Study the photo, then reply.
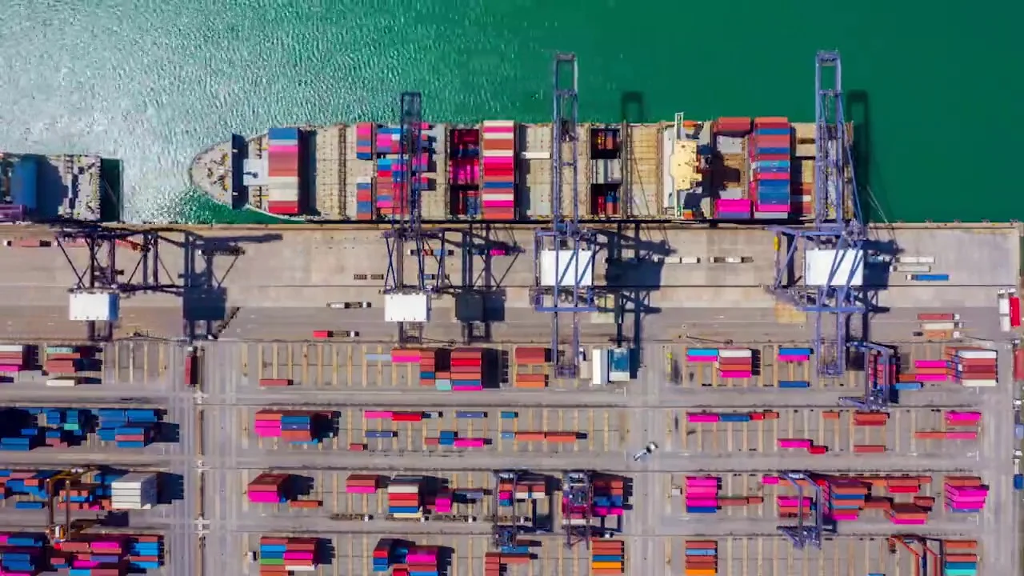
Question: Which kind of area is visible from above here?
port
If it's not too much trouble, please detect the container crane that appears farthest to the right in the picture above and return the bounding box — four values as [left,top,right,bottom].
[886,533,940,576]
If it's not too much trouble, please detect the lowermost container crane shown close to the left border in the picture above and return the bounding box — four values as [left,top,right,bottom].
[47,462,102,546]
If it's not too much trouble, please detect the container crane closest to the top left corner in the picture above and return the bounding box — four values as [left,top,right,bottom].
[0,210,176,339]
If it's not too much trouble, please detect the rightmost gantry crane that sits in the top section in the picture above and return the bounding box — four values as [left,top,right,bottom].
[753,50,870,376]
